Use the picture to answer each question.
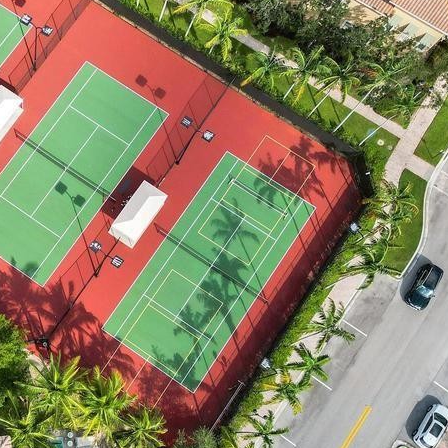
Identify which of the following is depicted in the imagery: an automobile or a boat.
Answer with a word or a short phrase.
automobile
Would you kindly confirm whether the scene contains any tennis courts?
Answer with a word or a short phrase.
Yes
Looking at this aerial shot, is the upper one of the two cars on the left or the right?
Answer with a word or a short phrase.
right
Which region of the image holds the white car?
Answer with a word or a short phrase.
bottom right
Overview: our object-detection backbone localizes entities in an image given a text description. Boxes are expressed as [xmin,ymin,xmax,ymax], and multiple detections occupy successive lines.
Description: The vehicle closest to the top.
[403,263,446,308]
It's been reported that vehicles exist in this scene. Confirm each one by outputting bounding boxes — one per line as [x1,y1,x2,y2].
[403,263,446,308]
[412,405,448,448]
